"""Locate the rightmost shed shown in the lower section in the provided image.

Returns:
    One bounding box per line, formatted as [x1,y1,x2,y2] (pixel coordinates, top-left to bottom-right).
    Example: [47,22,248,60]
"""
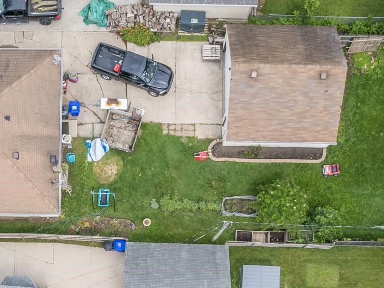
[238,265,280,288]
